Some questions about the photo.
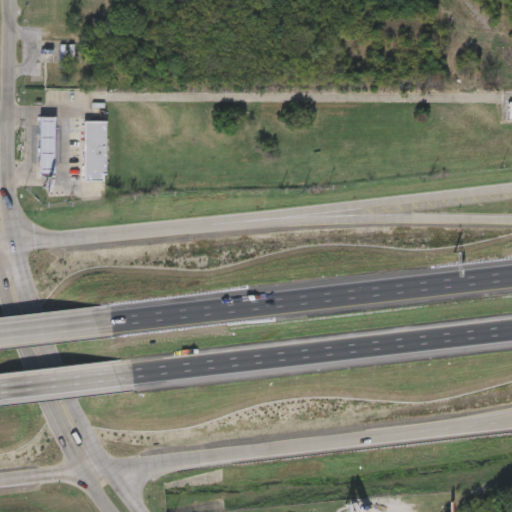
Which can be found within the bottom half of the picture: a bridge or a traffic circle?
bridge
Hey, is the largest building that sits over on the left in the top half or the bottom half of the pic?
top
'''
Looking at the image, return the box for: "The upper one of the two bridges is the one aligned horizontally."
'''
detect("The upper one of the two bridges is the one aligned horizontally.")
[0,306,104,350]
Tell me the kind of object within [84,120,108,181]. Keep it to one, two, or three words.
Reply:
building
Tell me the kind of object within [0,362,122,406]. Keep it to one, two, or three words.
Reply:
bridge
